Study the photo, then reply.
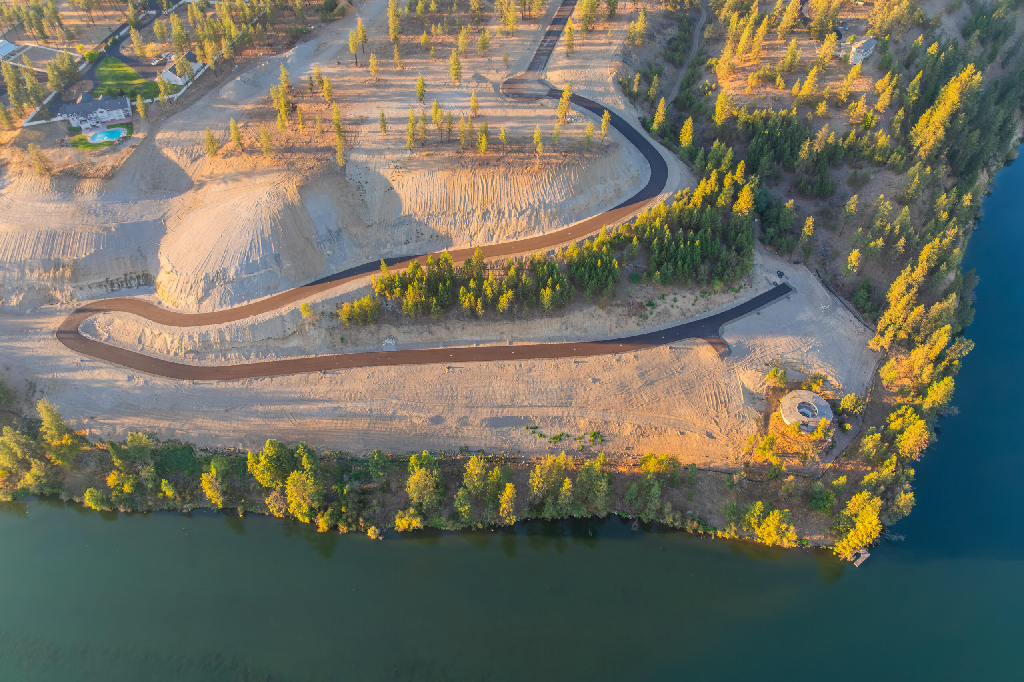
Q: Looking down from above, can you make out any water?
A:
Yes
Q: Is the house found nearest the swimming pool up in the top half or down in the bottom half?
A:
top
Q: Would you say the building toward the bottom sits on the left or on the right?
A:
right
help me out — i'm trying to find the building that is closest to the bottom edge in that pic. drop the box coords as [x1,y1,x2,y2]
[780,389,836,437]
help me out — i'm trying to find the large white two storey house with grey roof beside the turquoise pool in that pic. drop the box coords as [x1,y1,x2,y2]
[48,80,148,131]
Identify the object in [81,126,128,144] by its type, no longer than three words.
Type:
swimming pool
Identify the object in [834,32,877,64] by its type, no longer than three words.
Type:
house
